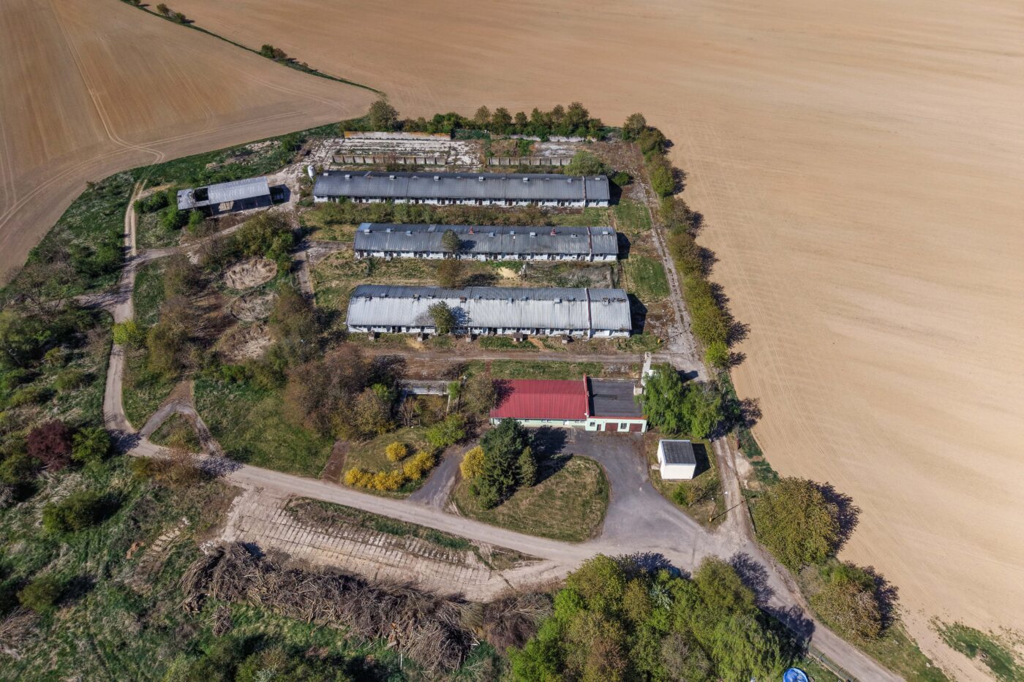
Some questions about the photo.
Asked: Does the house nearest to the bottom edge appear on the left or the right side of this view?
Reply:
right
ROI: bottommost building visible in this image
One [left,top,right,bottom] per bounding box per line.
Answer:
[652,439,696,479]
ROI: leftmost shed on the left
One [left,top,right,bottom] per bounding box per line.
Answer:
[177,177,275,222]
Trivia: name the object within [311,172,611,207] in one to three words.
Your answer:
barn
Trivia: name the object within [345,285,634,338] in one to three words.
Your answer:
barn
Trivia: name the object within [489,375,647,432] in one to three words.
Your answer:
building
